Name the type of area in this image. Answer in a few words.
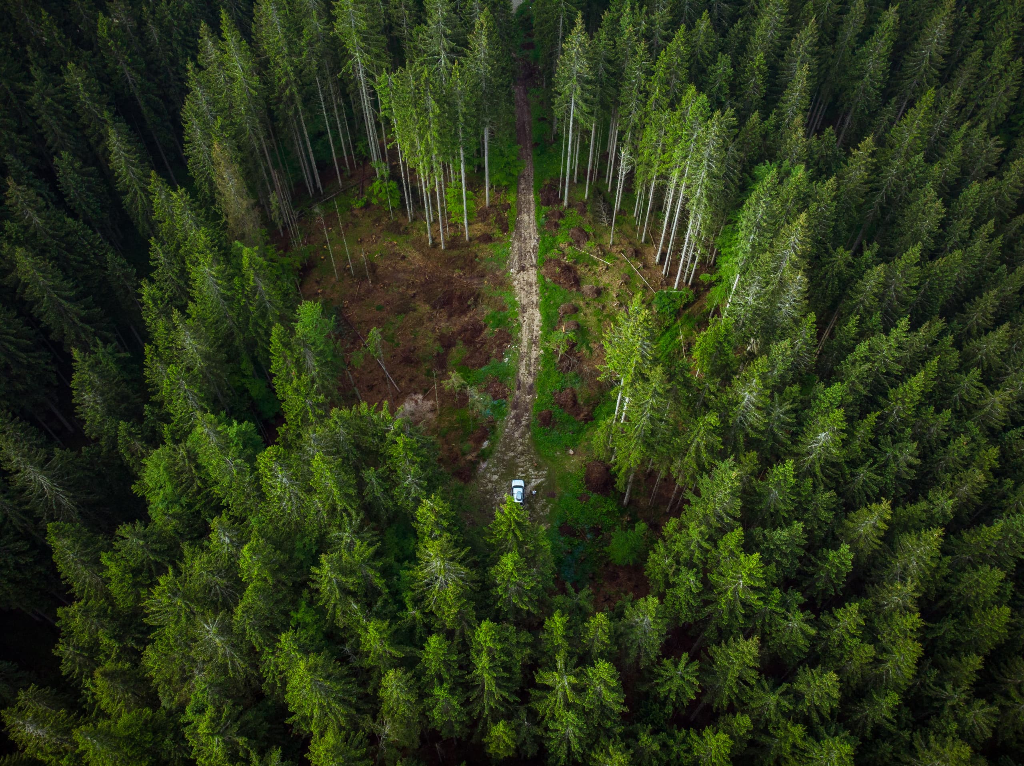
forest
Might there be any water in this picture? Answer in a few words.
No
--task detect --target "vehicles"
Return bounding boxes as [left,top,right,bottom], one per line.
[511,479,526,506]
